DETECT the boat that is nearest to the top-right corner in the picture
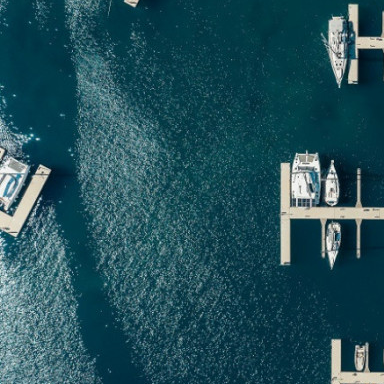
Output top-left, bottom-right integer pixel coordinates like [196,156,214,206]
[321,15,351,89]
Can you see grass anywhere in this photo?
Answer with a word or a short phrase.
No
